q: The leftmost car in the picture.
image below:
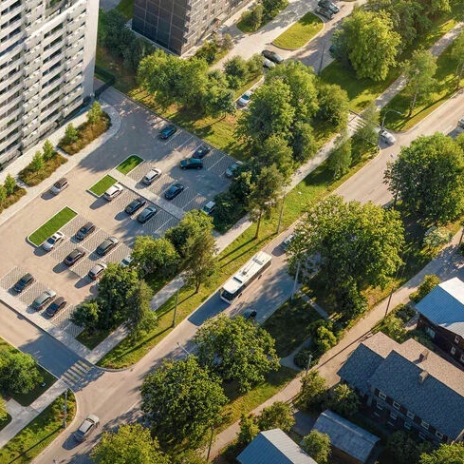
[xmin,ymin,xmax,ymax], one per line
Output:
[11,273,37,294]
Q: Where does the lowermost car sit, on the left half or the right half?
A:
left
